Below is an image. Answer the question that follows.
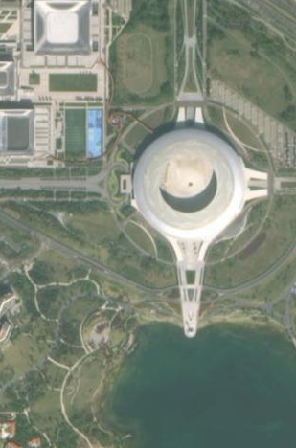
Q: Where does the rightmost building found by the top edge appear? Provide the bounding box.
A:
[34,0,91,54]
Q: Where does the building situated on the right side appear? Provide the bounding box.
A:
[120,107,268,338]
